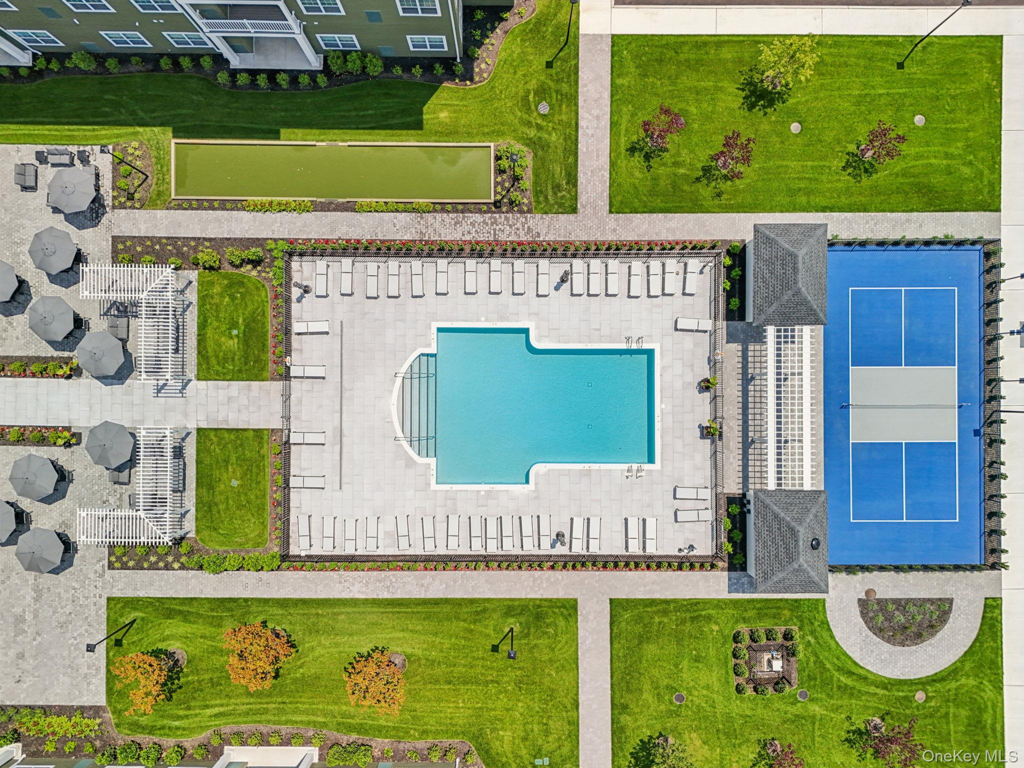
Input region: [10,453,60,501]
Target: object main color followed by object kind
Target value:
gray umbrella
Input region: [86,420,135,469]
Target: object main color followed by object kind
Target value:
gray umbrella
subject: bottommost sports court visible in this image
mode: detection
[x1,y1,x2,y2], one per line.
[824,245,984,565]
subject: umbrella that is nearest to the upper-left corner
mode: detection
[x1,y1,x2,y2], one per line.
[50,166,98,215]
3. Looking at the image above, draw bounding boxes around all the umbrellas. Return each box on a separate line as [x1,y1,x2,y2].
[0,498,20,541]
[29,226,79,276]
[10,453,60,501]
[77,330,126,378]
[560,271,569,283]
[50,166,98,215]
[0,257,23,304]
[16,525,66,574]
[27,293,78,343]
[293,282,311,293]
[86,420,135,469]
[556,531,566,546]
